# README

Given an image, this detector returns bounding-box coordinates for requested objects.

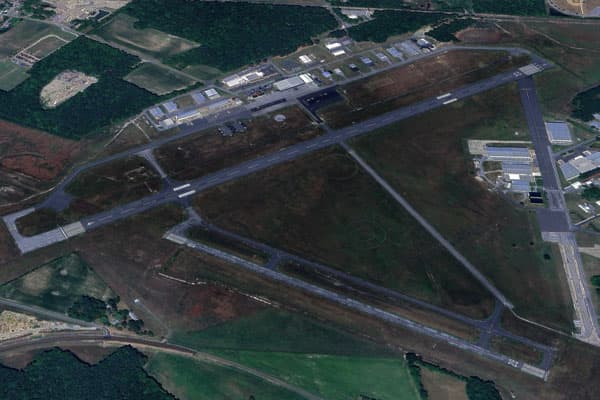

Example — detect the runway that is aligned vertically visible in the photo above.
[517,74,564,207]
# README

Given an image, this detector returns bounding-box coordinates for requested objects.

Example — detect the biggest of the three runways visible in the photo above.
[19,60,553,252]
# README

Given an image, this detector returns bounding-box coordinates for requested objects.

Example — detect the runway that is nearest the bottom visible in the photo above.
[163,233,548,380]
